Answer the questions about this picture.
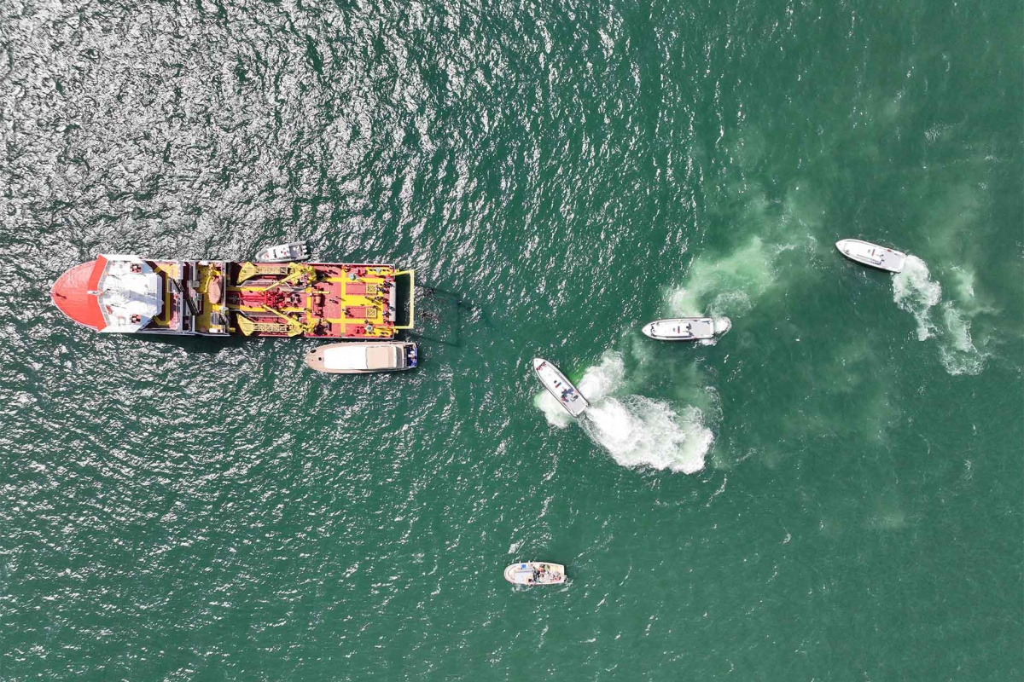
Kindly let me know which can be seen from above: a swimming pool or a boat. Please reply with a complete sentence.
This aerial view contains a boat.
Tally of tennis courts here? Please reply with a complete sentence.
I count no tennis courts.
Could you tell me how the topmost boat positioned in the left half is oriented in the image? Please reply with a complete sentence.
The topmost boat positioned in the left half is oriented from left to right.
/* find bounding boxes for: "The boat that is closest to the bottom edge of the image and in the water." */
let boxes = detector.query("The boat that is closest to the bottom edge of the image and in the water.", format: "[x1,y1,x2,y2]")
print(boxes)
[504,562,567,585]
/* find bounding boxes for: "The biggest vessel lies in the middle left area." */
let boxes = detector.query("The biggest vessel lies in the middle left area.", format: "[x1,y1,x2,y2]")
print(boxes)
[45,255,414,338]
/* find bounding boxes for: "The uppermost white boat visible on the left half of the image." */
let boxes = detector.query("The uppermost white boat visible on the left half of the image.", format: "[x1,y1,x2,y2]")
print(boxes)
[252,241,308,262]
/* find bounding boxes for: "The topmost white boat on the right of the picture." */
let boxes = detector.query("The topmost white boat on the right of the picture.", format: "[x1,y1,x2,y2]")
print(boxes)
[838,237,910,273]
